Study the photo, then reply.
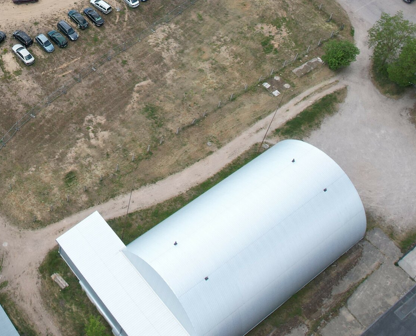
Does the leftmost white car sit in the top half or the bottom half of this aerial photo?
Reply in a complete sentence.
The top half of the photo is where the leftmost white car is.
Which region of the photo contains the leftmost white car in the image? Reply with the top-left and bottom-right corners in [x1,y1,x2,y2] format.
[12,45,36,68]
